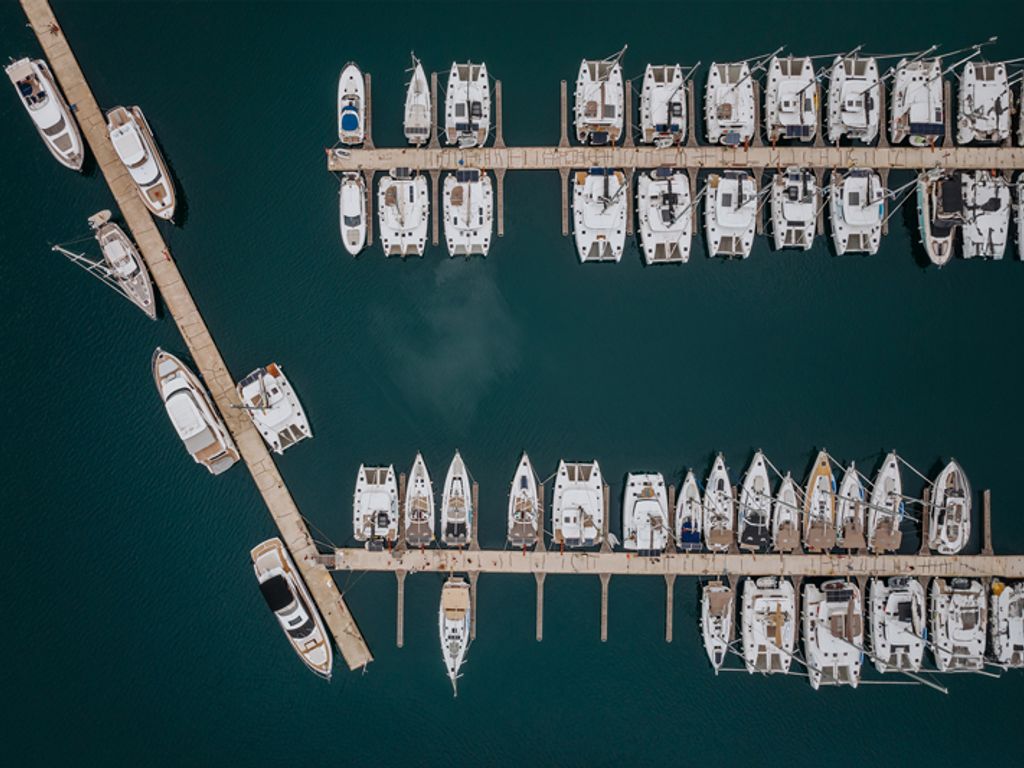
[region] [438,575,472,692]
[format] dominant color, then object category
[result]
white boat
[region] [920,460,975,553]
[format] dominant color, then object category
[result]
gray boat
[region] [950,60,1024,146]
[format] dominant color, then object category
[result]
white boat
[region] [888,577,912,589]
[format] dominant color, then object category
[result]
gray boat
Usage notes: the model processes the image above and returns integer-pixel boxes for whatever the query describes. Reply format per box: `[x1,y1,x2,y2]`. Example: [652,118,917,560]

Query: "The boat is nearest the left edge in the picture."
[8,57,96,174]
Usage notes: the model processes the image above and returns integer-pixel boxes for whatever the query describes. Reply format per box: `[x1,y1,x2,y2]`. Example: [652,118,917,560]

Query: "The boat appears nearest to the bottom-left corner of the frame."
[253,537,334,681]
